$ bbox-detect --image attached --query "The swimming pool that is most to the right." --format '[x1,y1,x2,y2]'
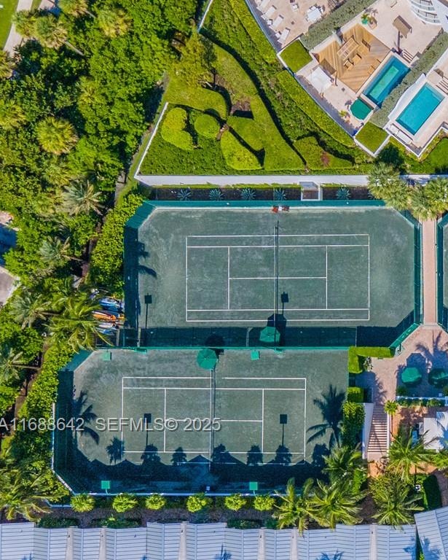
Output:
[398,81,447,138]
